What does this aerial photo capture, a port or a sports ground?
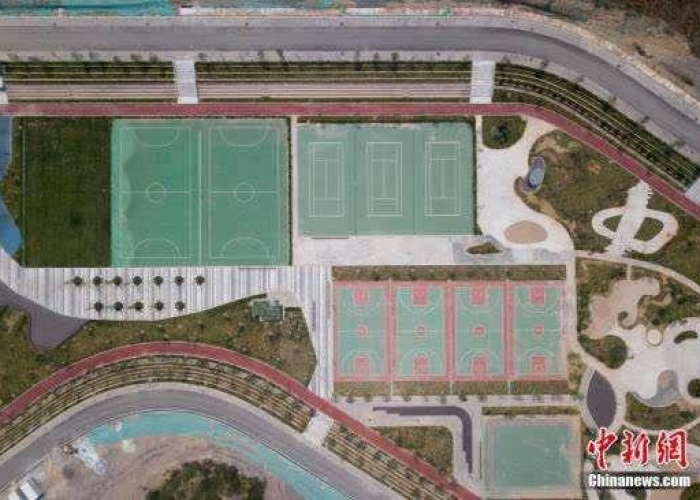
sports ground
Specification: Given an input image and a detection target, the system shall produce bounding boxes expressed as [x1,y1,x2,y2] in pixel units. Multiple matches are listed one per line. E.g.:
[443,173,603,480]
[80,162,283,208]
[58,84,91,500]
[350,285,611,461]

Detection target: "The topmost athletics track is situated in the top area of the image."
[0,103,700,222]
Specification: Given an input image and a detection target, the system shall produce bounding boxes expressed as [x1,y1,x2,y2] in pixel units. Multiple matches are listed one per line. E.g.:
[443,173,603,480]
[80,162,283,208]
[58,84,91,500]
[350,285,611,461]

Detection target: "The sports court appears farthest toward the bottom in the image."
[483,415,582,498]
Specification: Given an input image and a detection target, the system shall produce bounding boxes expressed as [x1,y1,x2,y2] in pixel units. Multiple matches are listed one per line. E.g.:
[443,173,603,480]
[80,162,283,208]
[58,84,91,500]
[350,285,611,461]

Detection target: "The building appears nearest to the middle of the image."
[253,300,284,323]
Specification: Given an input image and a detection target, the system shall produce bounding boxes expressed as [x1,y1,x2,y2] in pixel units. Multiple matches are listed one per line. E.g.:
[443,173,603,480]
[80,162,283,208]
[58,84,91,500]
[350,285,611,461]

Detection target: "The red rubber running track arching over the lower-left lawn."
[0,341,481,500]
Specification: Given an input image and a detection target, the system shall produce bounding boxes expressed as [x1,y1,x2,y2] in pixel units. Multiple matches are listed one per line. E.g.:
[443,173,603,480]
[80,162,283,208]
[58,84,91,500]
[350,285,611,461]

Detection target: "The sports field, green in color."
[23,120,111,267]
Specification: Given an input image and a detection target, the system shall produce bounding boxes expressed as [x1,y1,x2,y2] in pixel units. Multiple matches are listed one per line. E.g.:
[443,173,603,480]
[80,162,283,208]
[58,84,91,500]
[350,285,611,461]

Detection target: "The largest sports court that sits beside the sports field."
[111,120,288,267]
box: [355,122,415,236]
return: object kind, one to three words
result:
tennis court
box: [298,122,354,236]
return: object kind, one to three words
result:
tennis court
